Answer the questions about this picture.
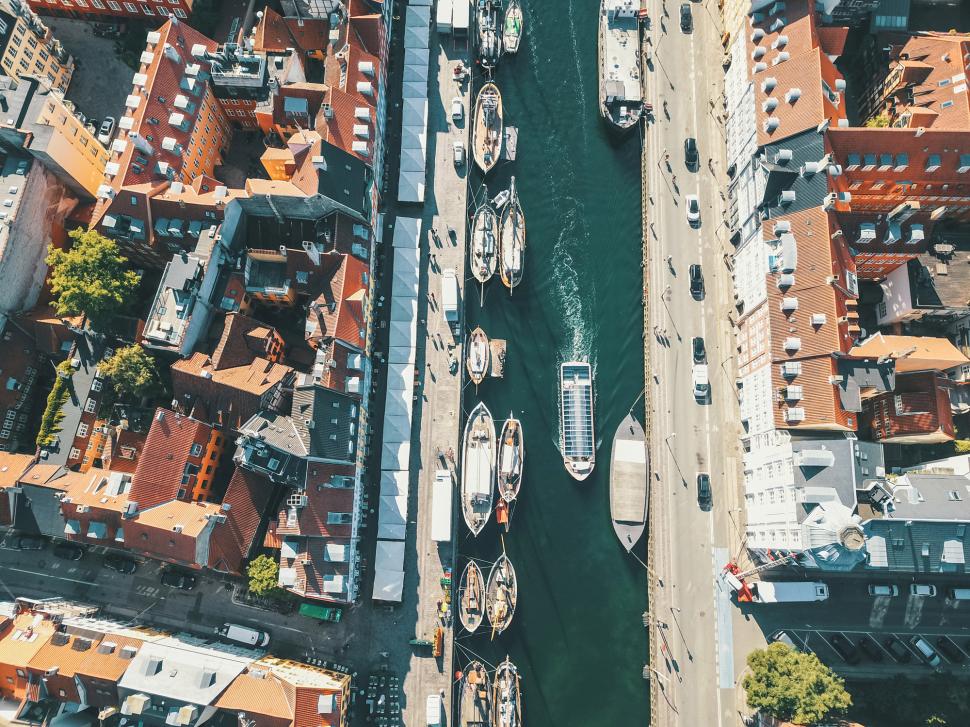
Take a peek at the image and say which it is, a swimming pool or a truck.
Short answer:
truck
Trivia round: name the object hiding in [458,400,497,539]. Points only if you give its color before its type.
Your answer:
white boat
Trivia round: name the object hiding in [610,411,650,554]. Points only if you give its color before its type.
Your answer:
white ship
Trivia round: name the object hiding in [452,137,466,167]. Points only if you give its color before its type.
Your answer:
white vehicle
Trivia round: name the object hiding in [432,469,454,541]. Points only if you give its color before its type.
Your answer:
white truck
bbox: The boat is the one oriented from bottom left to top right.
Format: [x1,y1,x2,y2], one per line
[493,192,508,212]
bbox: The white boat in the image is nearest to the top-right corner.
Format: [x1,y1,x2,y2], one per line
[600,0,650,134]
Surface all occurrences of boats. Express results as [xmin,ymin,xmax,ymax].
[466,321,490,397]
[495,498,508,526]
[487,533,518,644]
[474,77,503,177]
[498,168,526,293]
[503,0,523,58]
[457,659,492,727]
[600,0,650,134]
[458,560,485,634]
[493,192,508,212]
[496,409,525,524]
[458,400,497,539]
[475,0,503,77]
[558,359,596,481]
[493,651,522,727]
[468,178,498,302]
